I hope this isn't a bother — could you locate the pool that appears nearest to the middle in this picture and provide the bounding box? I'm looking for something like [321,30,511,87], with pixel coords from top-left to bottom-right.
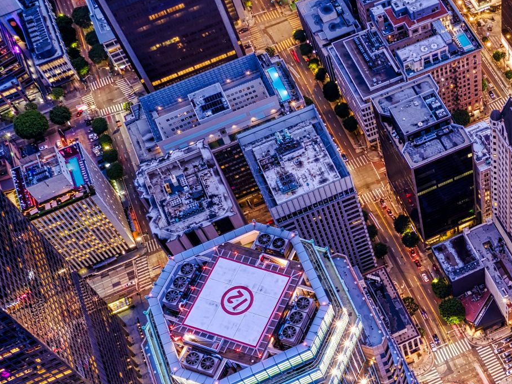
[267,66,291,102]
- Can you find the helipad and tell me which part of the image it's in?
bottom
